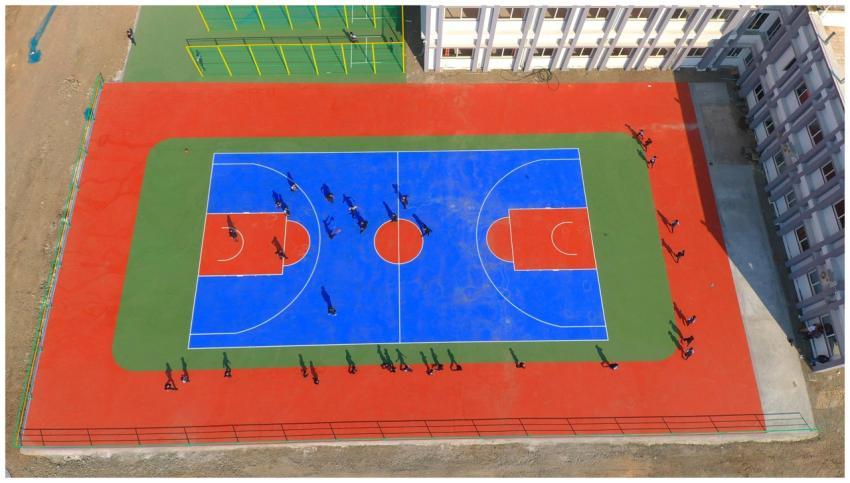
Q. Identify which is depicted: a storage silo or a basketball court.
basketball court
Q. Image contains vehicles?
No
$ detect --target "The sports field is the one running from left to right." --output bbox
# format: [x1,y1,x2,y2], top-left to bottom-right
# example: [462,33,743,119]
[123,0,409,84]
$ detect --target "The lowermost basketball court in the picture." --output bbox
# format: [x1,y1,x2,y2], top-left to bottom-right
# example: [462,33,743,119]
[22,83,766,447]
